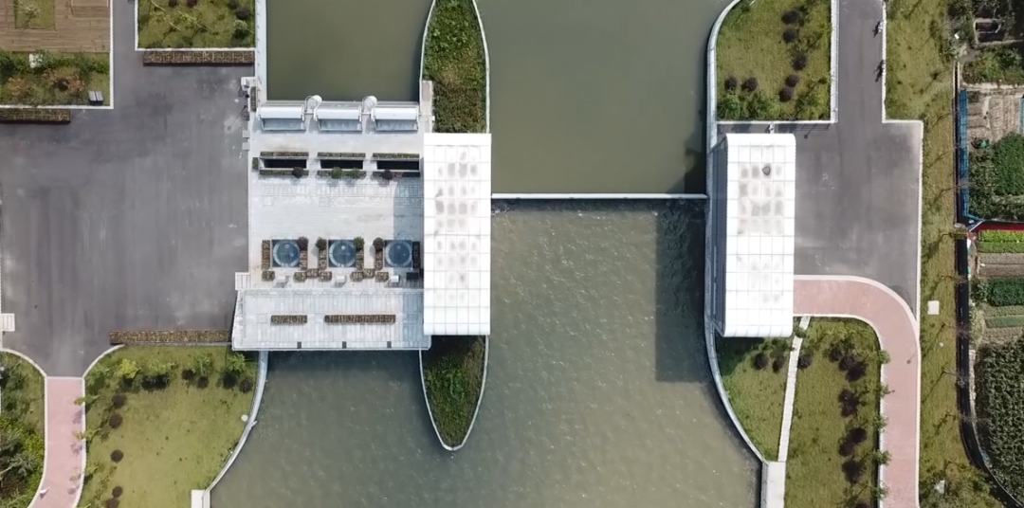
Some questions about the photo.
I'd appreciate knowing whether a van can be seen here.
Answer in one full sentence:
No, no van is visible in the scene.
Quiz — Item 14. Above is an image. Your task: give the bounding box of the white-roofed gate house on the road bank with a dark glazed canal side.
[713,133,793,335]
